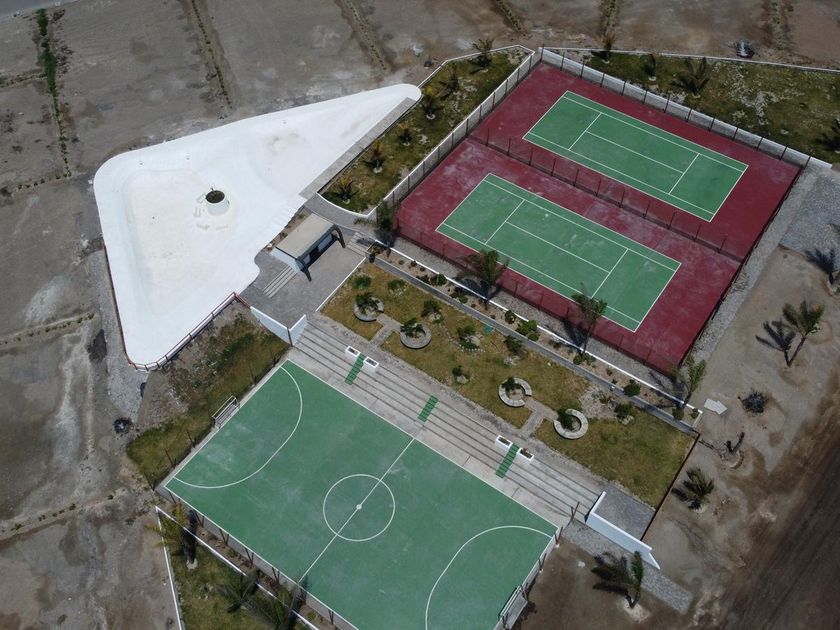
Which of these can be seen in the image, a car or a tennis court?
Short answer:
tennis court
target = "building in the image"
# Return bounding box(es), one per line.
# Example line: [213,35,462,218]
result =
[267,214,346,283]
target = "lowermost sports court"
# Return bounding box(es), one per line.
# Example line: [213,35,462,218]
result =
[157,349,568,630]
